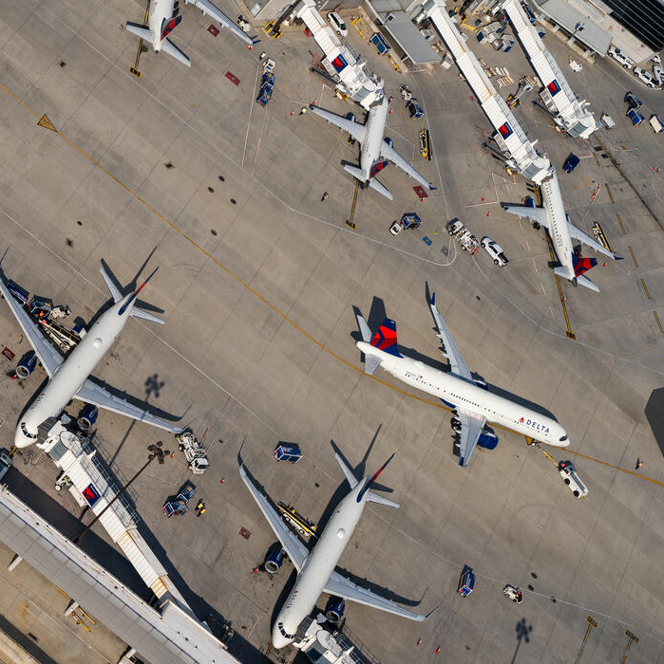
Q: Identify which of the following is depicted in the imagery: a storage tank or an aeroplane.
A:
aeroplane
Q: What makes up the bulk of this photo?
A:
paved ground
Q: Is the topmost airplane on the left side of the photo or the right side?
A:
left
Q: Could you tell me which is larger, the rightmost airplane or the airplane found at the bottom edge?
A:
the airplane found at the bottom edge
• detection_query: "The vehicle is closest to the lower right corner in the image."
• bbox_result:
[503,583,523,603]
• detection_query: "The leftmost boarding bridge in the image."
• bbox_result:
[38,419,217,630]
